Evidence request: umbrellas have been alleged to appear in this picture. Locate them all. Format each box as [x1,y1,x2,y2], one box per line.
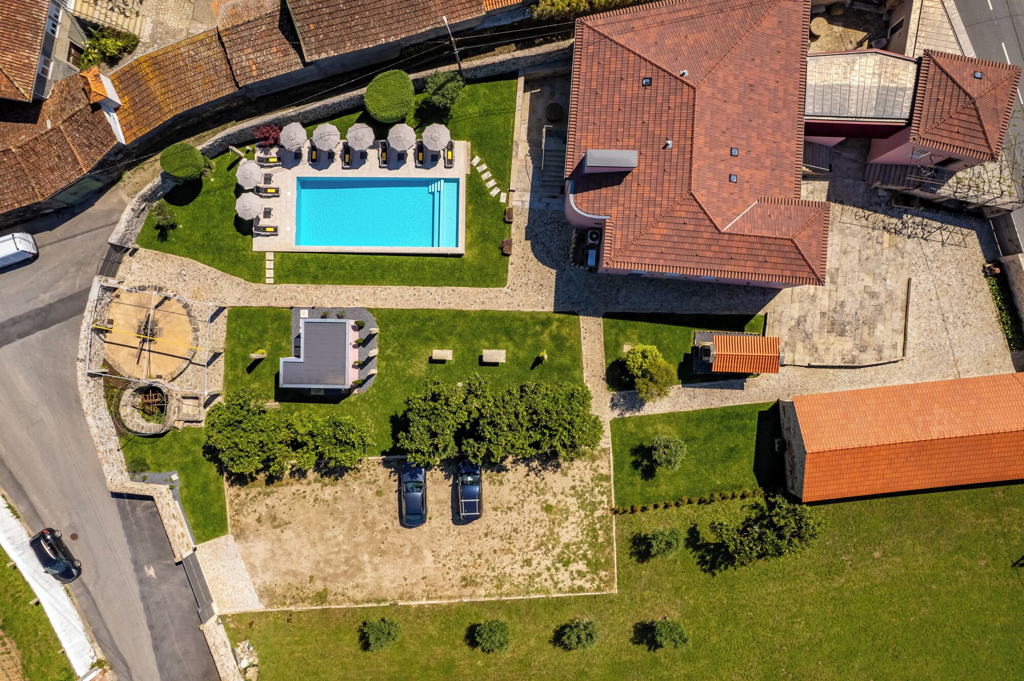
[423,123,451,152]
[280,124,309,152]
[389,125,418,154]
[349,124,377,153]
[236,192,265,221]
[314,123,343,152]
[237,162,267,191]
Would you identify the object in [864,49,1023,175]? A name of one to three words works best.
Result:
house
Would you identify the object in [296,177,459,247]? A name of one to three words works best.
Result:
swimming pool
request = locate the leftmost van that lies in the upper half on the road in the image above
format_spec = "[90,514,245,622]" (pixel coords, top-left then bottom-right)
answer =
[0,232,36,270]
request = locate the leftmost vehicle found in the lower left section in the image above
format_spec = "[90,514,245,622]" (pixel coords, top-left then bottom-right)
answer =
[31,527,84,584]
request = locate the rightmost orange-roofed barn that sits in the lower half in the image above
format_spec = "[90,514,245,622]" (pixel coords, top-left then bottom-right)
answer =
[779,374,1024,510]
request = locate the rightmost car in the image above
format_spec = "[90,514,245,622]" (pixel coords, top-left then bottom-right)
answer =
[455,460,484,524]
